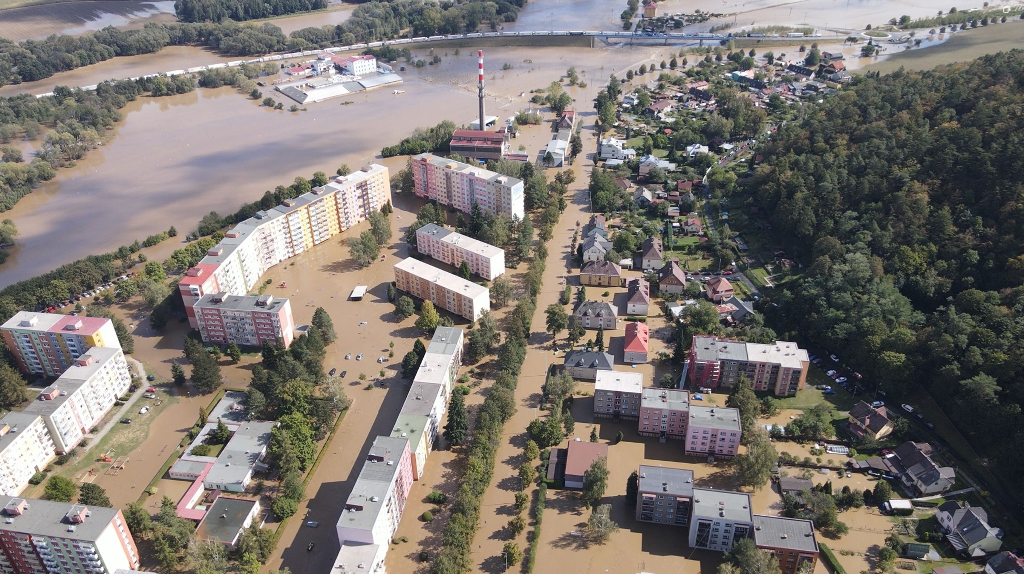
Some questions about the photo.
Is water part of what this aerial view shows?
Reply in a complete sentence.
Yes, water can be seen from above here.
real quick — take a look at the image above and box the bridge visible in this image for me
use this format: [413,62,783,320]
[594,34,726,49]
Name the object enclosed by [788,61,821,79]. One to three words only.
house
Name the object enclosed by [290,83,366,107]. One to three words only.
shed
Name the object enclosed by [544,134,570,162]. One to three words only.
barn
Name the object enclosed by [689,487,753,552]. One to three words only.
building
